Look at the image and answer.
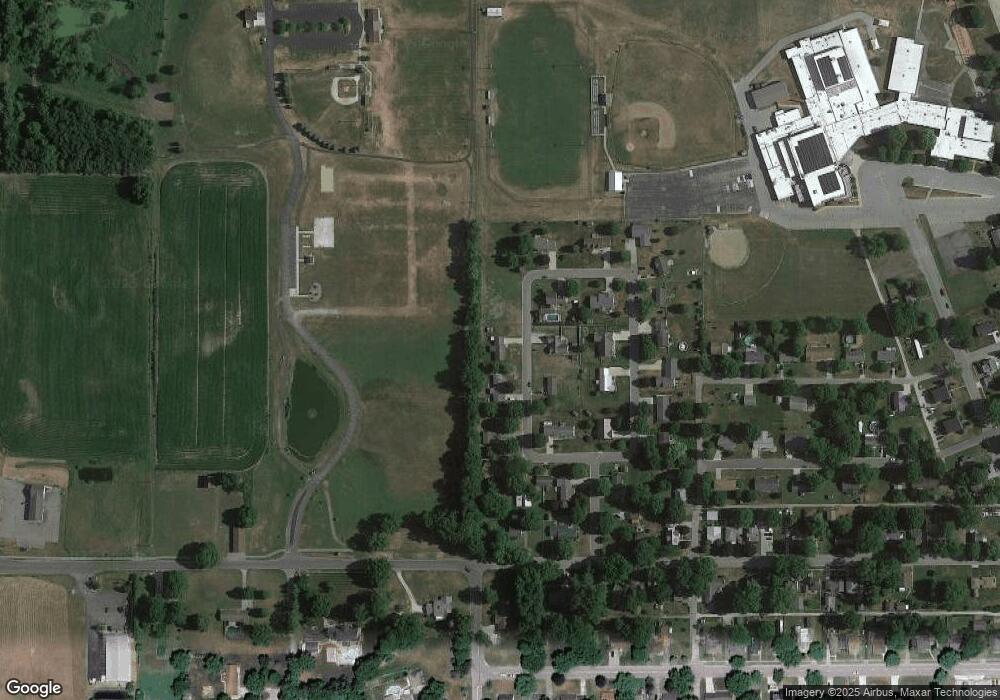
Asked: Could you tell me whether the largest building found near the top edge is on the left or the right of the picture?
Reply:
right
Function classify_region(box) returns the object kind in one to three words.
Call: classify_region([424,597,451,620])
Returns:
house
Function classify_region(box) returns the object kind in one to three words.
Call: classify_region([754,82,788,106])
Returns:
shed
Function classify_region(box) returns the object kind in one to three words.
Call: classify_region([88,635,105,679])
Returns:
barn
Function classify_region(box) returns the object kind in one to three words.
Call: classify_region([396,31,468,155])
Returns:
sports field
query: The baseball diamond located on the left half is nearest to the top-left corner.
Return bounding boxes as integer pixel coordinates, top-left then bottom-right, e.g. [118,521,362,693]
[277,69,362,143]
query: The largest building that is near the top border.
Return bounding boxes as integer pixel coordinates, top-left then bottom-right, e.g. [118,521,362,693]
[757,28,994,206]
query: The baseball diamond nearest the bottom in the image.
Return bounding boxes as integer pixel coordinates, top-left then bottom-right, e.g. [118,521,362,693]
[704,228,790,306]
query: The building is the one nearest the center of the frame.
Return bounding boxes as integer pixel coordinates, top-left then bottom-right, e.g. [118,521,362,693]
[491,337,506,359]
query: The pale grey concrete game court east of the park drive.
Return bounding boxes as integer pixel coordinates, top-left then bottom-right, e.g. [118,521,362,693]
[313,218,334,248]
